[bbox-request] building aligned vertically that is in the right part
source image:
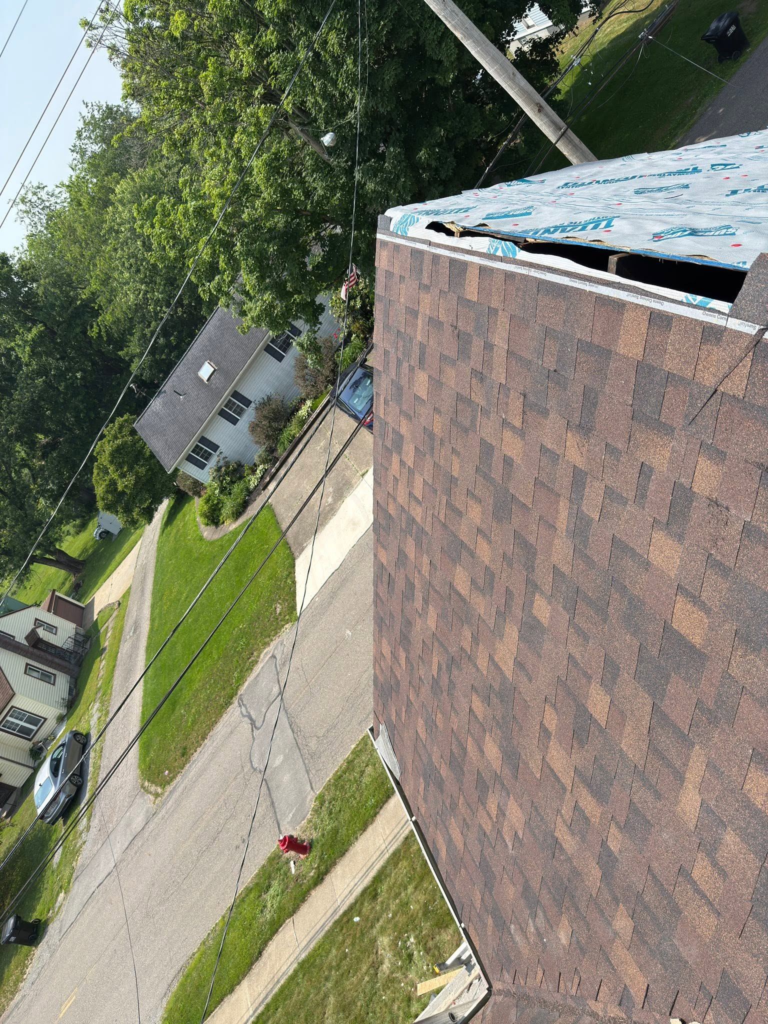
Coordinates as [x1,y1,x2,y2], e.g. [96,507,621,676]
[367,125,768,1024]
